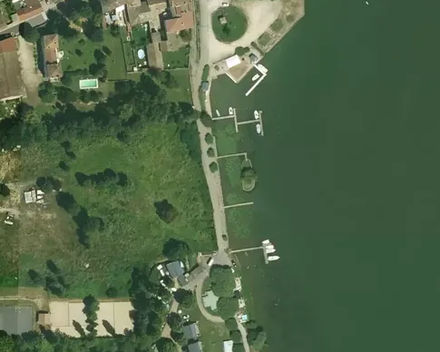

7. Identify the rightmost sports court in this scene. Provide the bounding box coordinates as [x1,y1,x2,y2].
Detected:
[114,302,133,338]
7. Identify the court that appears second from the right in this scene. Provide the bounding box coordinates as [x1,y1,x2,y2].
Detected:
[89,303,114,337]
